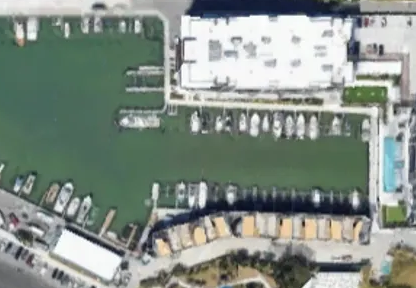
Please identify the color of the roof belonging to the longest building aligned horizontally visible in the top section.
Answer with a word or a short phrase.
white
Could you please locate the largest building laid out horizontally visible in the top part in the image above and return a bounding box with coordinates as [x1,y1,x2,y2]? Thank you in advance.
[179,16,353,96]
